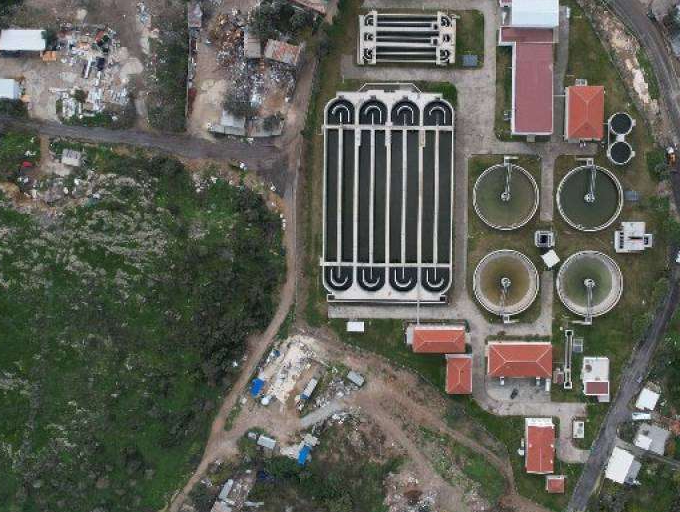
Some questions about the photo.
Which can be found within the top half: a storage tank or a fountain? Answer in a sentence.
The feature located within the top half is a storage tank.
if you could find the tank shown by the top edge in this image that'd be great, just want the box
[360,12,460,65]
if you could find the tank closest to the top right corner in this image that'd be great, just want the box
[606,112,635,141]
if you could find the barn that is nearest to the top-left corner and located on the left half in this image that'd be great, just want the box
[0,29,50,52]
